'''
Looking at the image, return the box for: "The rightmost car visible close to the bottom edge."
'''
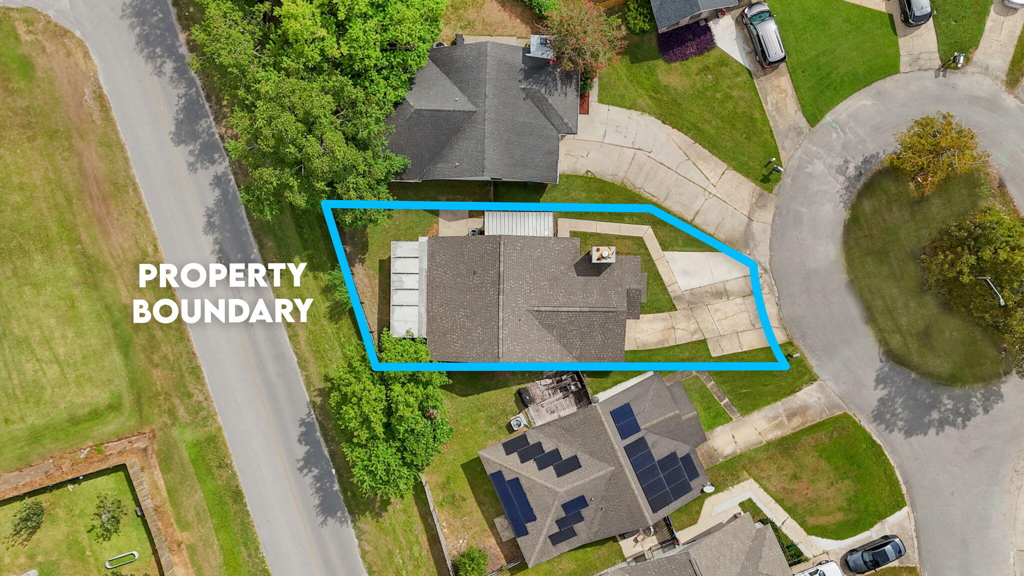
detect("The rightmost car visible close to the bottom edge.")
[840,531,908,575]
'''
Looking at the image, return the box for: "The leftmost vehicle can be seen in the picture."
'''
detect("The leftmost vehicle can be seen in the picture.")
[740,0,787,68]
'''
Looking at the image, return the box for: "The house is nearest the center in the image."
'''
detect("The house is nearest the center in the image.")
[391,211,646,365]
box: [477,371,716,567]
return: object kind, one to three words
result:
house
